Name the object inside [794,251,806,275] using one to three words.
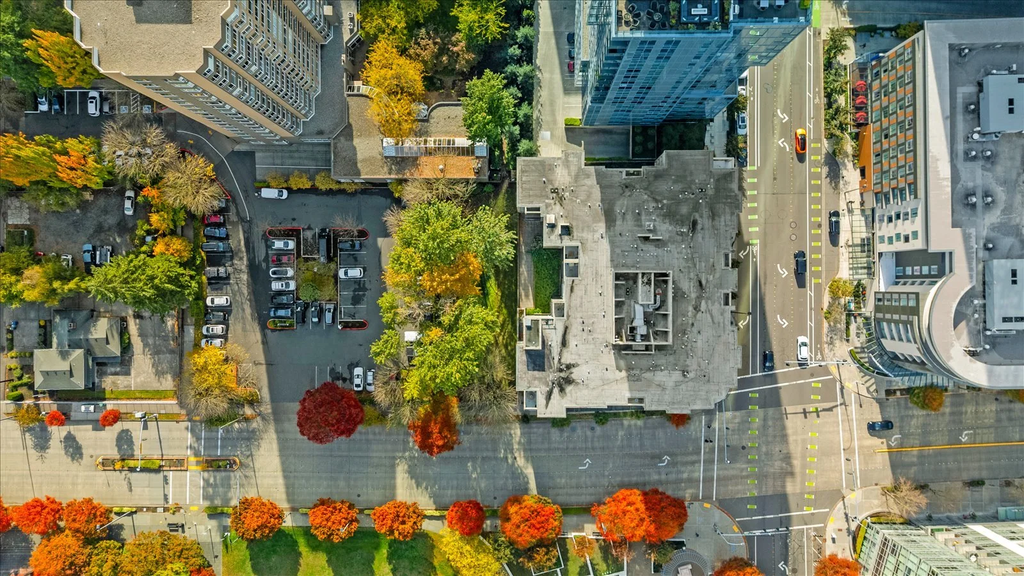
vehicle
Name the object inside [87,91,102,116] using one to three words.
car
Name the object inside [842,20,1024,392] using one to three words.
building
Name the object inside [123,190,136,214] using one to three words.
vehicle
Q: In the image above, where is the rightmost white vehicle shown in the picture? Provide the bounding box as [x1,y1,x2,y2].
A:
[796,337,810,361]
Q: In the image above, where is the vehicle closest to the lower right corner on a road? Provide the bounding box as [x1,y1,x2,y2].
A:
[866,420,893,432]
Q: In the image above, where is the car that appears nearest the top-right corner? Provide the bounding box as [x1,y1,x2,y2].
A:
[794,129,807,153]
